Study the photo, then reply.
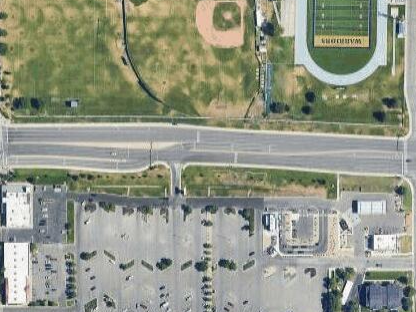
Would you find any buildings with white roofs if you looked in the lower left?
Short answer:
Yes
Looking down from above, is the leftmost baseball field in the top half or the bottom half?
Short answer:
top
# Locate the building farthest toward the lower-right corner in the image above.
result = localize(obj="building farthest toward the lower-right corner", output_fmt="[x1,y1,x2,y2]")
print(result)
[366,284,403,310]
